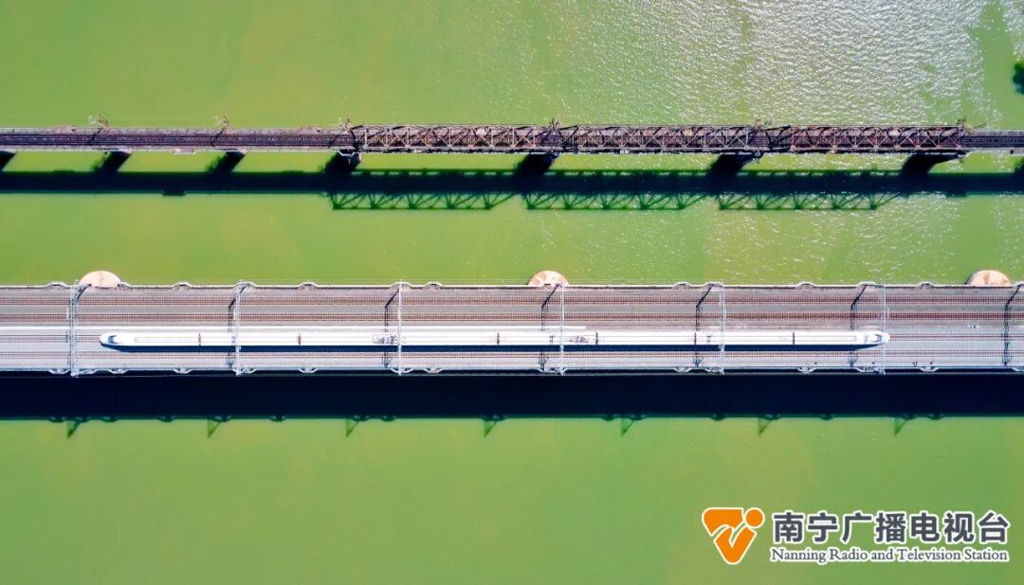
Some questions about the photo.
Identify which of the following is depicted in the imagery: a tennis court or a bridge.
bridge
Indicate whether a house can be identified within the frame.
No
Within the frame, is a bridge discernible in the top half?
Yes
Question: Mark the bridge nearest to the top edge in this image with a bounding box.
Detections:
[0,123,1024,165]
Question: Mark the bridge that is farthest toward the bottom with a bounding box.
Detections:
[0,270,1024,375]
